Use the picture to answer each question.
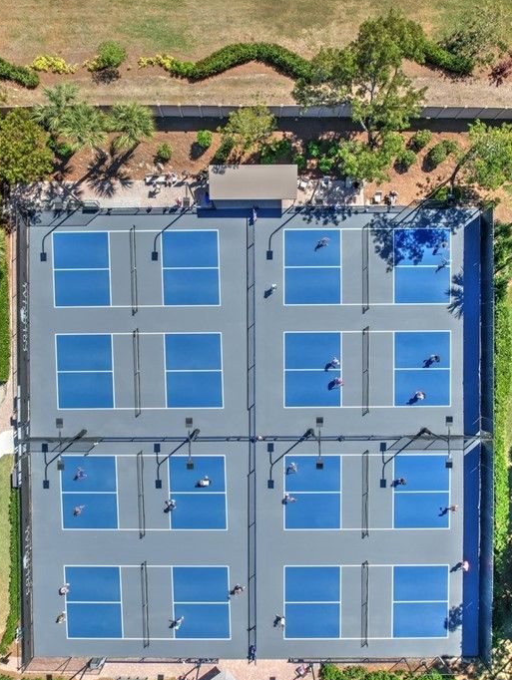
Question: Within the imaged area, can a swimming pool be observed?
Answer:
No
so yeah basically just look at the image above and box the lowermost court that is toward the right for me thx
[284,565,450,640]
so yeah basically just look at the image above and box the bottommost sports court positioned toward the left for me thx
[63,566,231,640]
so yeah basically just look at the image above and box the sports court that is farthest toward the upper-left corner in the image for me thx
[52,228,221,308]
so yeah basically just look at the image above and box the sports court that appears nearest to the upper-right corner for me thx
[284,227,452,306]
